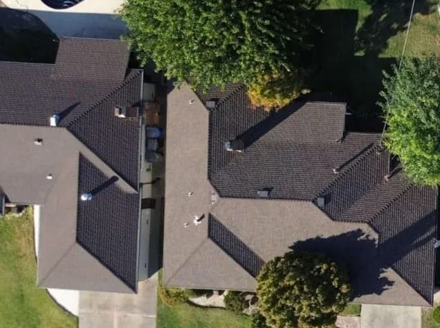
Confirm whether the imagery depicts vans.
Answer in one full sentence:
No, the photo shows no van.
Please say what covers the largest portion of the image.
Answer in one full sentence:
What you mostly see from above here is buildings.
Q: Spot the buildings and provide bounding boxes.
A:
[0,38,155,294]
[162,66,440,307]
